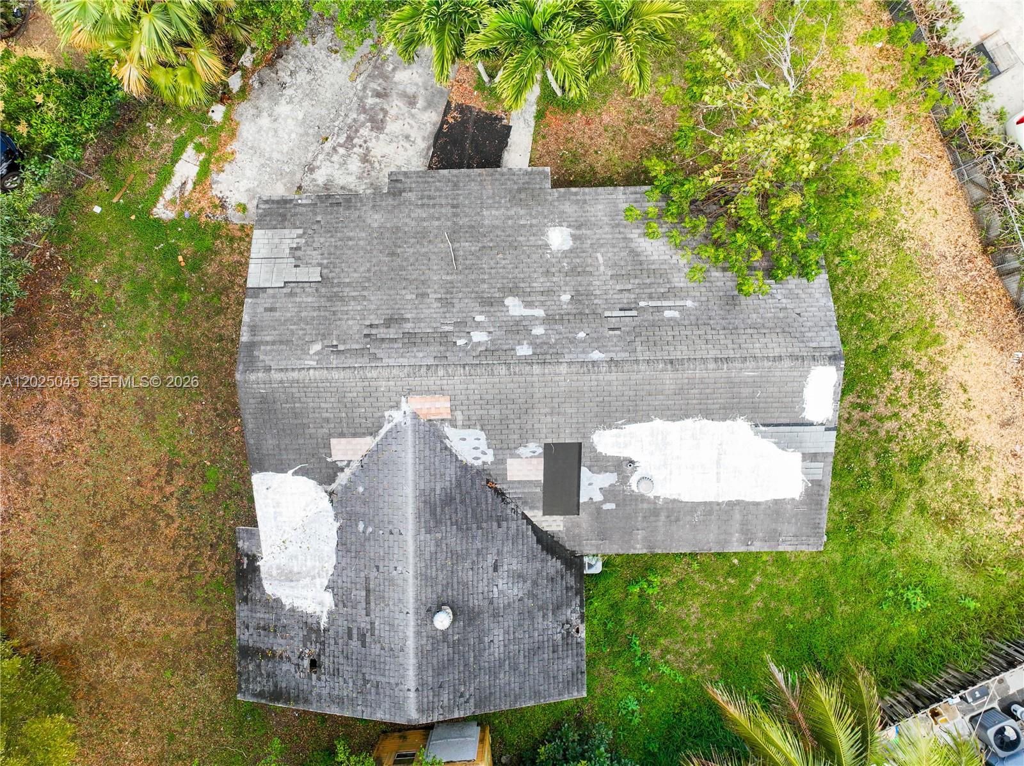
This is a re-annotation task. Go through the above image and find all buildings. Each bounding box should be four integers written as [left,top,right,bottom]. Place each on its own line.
[235,166,846,724]
[361,724,491,766]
